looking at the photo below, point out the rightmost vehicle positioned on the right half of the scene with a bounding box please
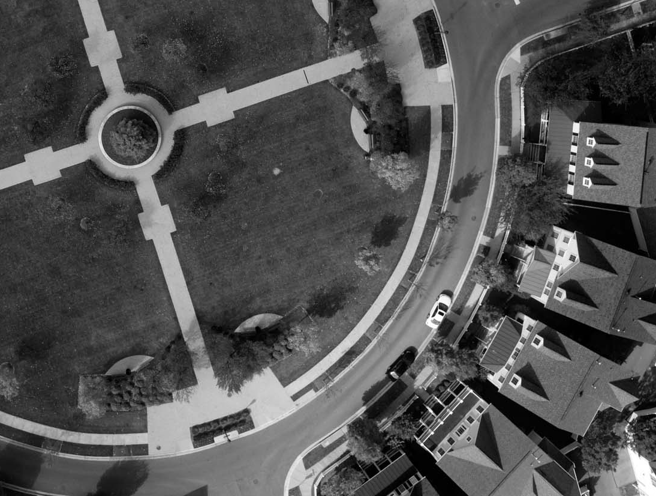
[425,291,455,331]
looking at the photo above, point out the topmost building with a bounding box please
[520,108,656,208]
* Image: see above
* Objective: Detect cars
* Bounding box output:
[385,343,417,382]
[425,291,455,331]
